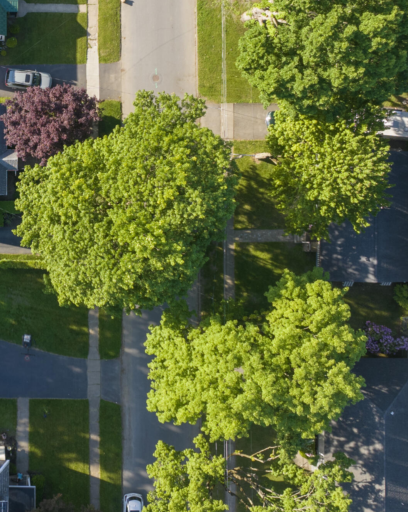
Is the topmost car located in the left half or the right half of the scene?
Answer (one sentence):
You can find the topmost car on the left side of the picture.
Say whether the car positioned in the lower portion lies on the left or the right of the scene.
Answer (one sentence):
It is on the left.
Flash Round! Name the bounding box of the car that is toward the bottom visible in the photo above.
[123,491,144,512]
